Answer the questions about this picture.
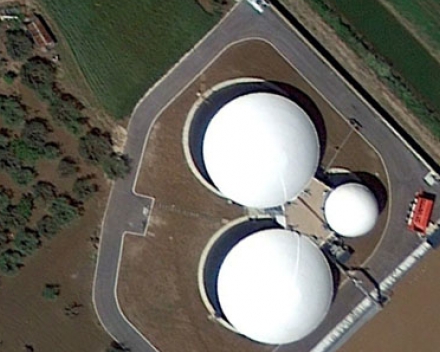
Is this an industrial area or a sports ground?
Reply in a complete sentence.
This looks like an industrial area.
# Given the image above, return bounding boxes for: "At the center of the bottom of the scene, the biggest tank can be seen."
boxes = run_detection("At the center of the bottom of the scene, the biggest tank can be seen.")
[196,213,334,344]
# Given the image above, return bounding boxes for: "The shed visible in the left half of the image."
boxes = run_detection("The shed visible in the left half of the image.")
[22,18,54,49]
